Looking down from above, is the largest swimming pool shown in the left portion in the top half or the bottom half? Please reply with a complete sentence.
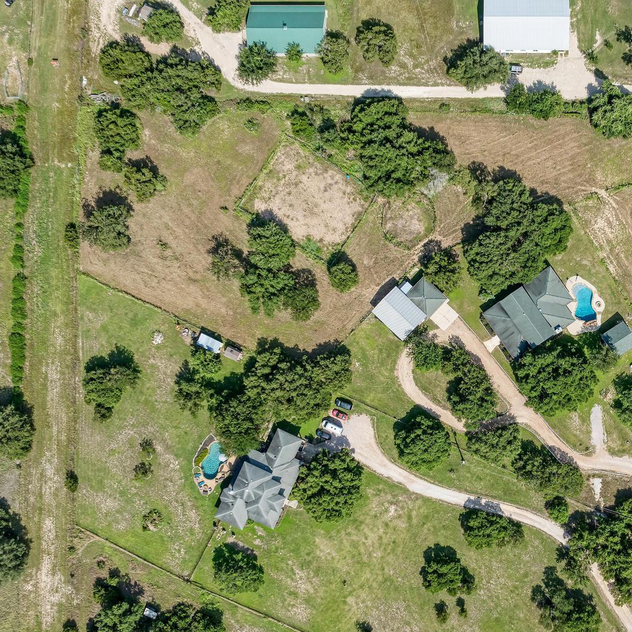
It is in the bottom half that the largest swimming pool shown in the left portion appears.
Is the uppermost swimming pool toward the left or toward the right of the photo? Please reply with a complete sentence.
The uppermost swimming pool appears in the right half of the scene.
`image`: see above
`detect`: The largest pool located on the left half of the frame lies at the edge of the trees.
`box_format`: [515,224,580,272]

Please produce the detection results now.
[193,439,237,496]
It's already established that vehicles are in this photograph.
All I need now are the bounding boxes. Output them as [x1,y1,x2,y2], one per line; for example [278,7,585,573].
[332,410,348,421]
[335,398,353,411]
[316,429,332,441]
[322,419,343,434]
[508,66,523,74]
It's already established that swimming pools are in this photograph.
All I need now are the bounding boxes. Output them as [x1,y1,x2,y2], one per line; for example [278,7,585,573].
[566,275,605,335]
[193,439,237,496]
